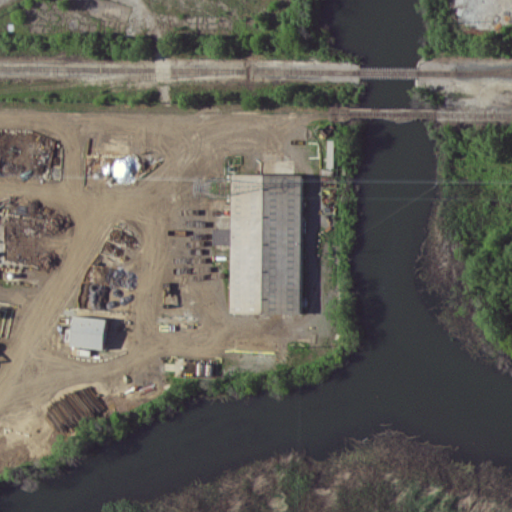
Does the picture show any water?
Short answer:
Yes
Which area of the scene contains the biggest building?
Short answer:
center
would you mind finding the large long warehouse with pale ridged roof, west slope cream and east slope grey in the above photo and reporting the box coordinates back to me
[212,175,304,315]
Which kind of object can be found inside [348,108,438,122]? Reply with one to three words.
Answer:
bridge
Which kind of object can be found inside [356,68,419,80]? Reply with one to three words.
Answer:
bridge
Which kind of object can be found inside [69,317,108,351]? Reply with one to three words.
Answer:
shed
